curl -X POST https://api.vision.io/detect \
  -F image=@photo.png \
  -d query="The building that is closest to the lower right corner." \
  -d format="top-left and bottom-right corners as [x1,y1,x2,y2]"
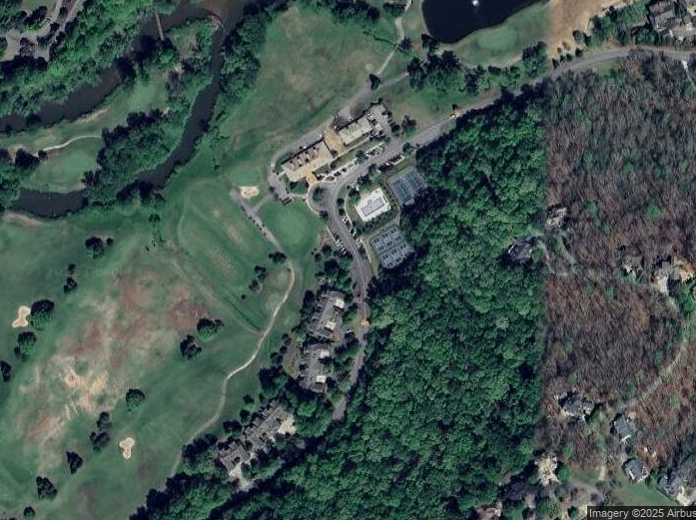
[655,468,686,496]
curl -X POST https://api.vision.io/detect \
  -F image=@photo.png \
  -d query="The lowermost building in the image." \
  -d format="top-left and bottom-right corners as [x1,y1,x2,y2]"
[475,502,503,520]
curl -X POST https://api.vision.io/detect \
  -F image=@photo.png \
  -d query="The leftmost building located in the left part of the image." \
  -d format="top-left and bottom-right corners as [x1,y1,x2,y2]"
[219,436,250,468]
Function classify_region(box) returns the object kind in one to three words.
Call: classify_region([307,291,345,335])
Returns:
house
